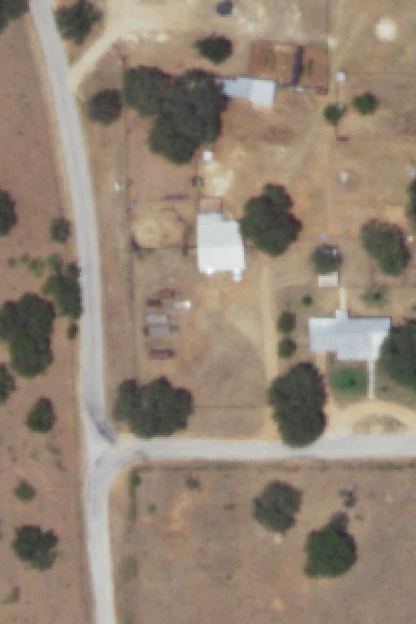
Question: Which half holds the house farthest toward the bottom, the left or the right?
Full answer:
The house farthest toward the bottom sits on the right side.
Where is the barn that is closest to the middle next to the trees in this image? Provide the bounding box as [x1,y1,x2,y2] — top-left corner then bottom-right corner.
[196,213,244,275]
